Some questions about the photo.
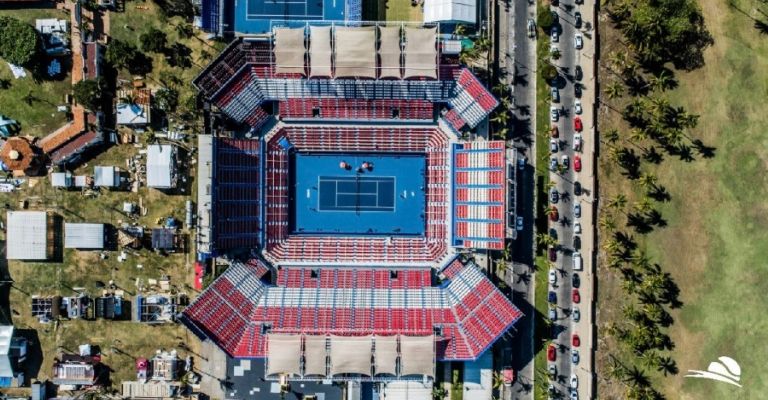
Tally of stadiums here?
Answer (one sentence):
In total, 1 stadium can be seen.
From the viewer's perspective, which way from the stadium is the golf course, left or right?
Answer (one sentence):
It is on the right side of the stadium that the golf course is positioned.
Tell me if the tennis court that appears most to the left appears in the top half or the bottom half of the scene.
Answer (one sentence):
The top half of the photo is where the tennis court that appears most to the left is.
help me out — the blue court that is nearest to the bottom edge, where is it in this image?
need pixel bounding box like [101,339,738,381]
[290,152,426,236]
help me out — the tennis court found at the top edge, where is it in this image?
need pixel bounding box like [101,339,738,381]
[233,0,334,33]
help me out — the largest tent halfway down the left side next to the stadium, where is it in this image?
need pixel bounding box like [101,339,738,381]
[147,145,176,188]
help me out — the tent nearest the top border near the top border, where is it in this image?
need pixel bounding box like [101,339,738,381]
[424,0,478,24]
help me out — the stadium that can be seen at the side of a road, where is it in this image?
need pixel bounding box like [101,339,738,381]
[182,20,522,382]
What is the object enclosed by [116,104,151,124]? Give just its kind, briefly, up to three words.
house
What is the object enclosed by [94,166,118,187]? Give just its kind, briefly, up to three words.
shed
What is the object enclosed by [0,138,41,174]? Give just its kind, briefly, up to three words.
building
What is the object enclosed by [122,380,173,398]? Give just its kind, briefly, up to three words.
shed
